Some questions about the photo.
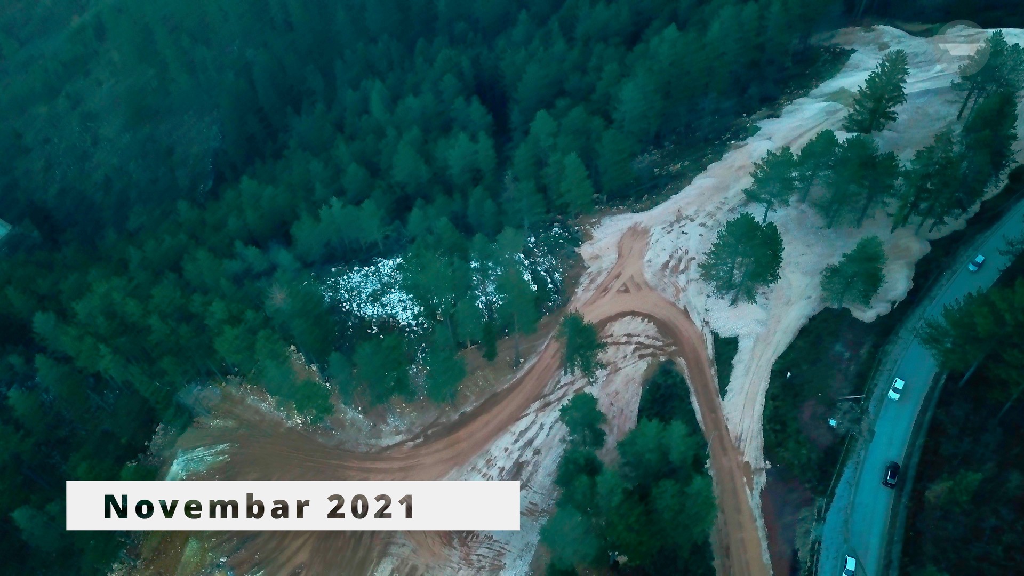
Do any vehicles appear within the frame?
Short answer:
Yes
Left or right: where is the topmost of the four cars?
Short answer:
right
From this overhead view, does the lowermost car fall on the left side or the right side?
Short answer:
right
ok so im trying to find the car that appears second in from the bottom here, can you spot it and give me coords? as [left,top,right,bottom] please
[881,459,902,491]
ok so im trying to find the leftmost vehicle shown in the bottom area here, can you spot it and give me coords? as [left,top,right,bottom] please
[838,549,860,576]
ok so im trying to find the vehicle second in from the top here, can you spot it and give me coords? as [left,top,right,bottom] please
[885,376,907,402]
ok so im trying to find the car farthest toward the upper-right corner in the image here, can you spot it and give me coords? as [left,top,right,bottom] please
[965,253,988,274]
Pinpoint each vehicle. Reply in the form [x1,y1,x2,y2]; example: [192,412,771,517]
[965,253,988,274]
[838,549,860,576]
[881,459,902,491]
[885,376,907,402]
